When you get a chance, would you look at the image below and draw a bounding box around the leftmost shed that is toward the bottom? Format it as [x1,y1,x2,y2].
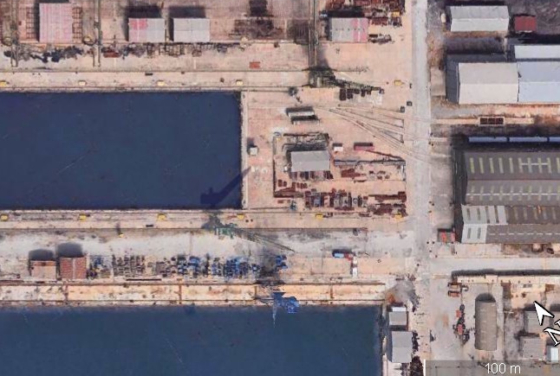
[31,261,56,279]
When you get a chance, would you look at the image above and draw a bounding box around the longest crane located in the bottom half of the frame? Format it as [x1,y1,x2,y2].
[213,217,296,252]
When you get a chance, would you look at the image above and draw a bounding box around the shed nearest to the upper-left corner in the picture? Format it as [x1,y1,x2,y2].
[40,3,72,42]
